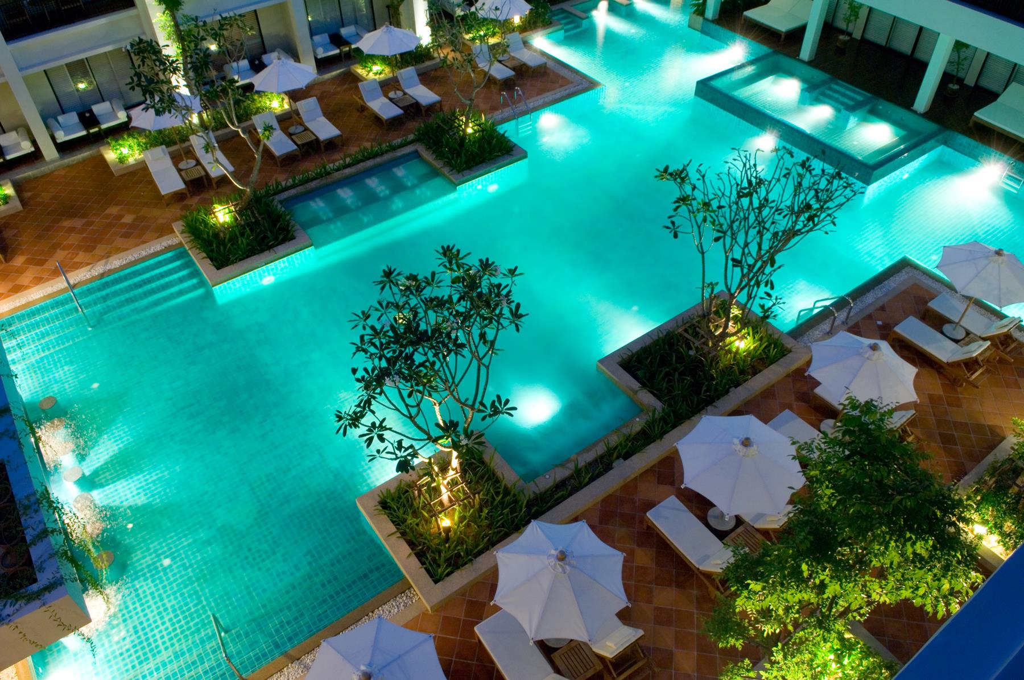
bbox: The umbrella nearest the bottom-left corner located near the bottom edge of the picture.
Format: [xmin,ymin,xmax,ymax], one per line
[307,613,448,680]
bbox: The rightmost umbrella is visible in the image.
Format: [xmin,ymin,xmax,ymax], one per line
[930,241,1024,341]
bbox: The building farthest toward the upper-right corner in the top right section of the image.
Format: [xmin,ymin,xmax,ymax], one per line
[800,0,1024,113]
